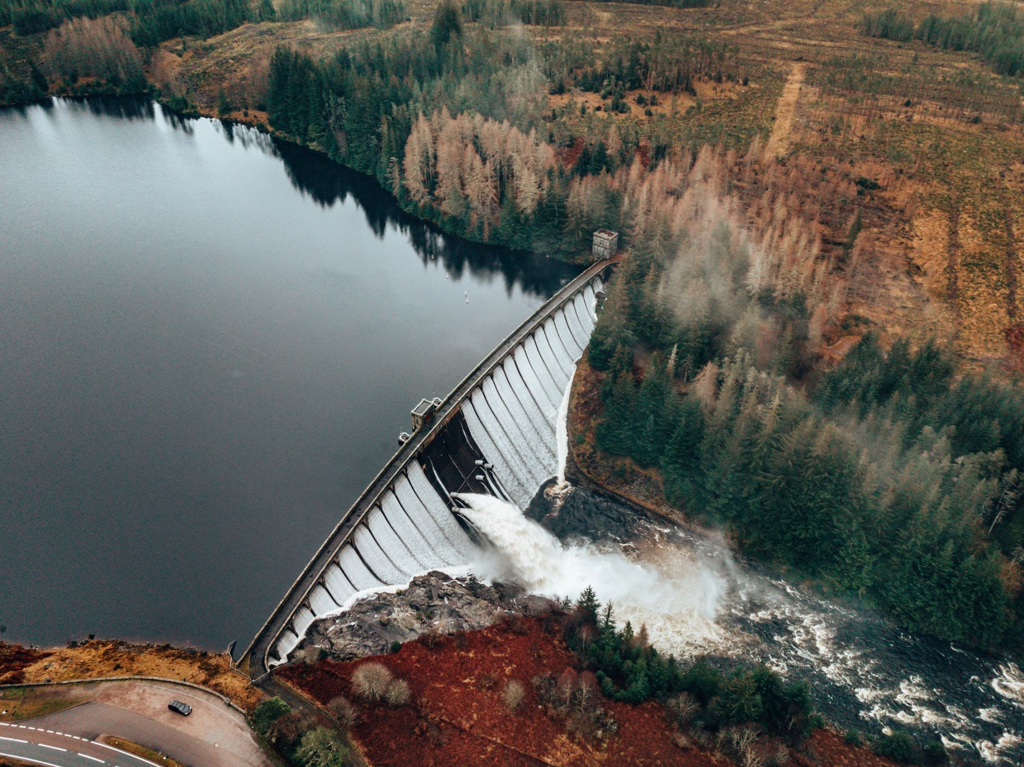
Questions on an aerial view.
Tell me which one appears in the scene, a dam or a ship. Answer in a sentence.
There is a dam in the scene.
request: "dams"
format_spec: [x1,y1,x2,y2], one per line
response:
[236,258,618,687]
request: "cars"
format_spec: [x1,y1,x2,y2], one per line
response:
[167,703,191,719]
